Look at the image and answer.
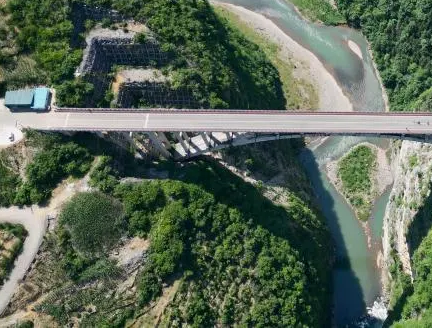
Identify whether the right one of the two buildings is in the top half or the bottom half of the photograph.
top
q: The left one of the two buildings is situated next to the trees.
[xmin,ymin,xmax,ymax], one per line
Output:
[4,90,33,107]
